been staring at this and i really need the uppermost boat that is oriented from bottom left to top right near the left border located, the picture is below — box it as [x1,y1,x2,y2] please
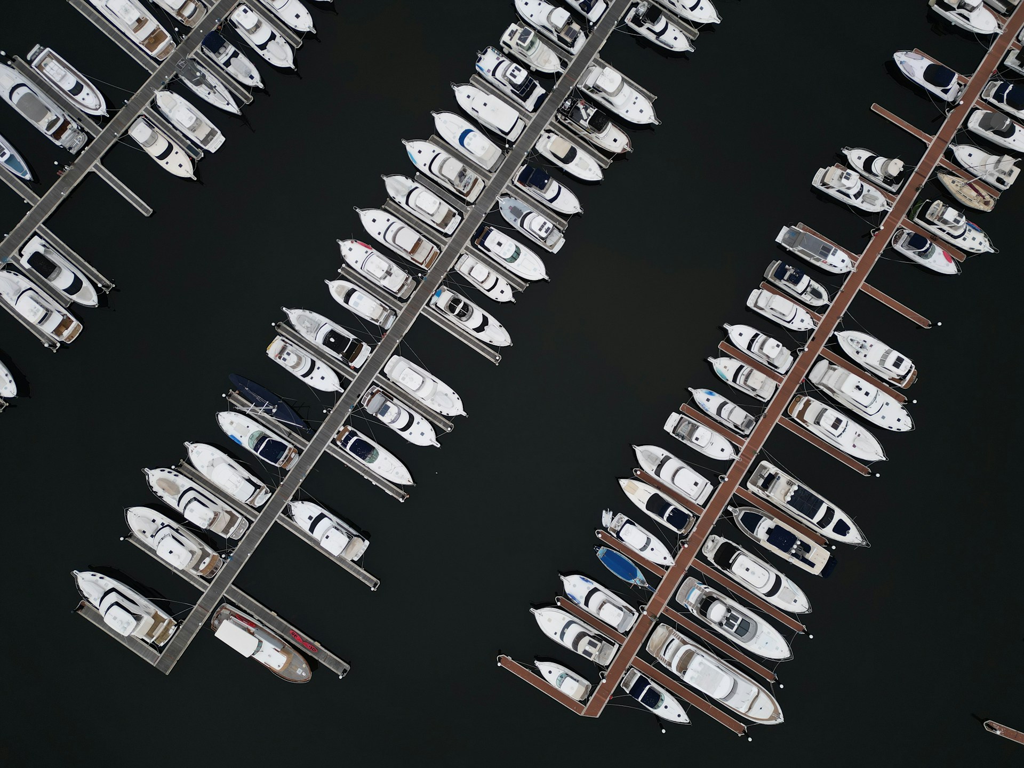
[24,42,43,63]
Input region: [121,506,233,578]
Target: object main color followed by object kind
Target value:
white boat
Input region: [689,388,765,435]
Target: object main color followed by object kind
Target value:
white boat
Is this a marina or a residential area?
marina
